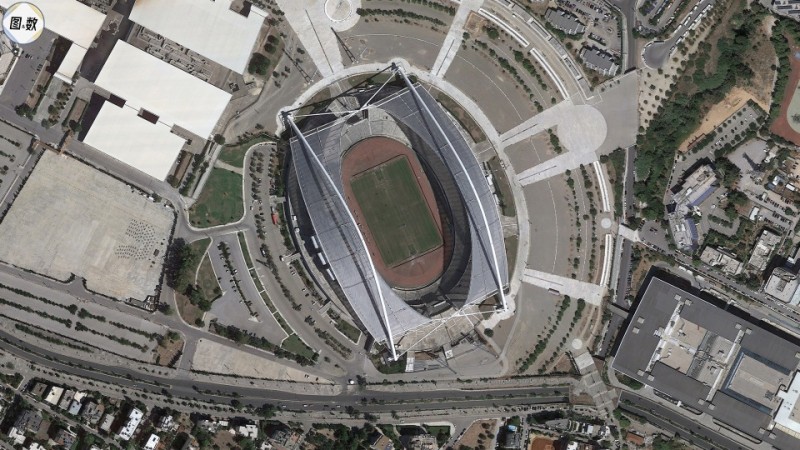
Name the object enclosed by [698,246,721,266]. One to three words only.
house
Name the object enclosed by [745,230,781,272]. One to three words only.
house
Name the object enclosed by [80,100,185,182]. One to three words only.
building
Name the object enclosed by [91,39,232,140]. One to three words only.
building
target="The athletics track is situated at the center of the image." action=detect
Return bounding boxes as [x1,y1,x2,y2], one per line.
[341,136,454,290]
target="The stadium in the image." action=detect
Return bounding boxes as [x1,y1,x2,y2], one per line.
[284,63,511,366]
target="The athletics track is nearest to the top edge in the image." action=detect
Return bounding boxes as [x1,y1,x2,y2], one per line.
[769,39,800,148]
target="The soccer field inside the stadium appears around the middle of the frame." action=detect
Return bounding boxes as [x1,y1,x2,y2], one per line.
[350,154,443,267]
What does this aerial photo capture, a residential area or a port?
residential area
